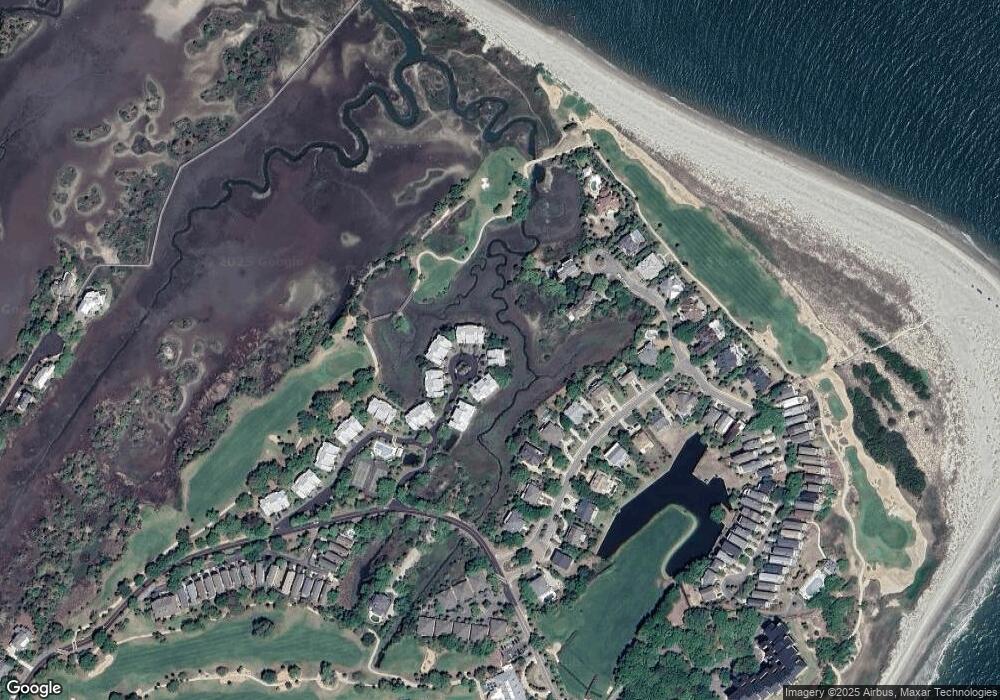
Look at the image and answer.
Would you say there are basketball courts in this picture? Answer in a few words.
No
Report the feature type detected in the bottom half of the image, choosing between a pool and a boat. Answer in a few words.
pool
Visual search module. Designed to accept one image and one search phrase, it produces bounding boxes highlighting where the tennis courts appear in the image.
[352,458,372,491]
[366,465,389,494]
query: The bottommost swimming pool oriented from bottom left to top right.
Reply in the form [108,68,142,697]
[800,569,825,598]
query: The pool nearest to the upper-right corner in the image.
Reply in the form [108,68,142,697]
[588,174,602,197]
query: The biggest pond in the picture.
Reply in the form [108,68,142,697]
[596,433,732,576]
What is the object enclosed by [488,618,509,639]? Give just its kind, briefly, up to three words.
building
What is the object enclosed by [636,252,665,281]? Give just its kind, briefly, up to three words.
house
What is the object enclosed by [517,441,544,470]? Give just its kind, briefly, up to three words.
house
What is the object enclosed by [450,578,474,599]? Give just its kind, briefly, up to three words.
building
